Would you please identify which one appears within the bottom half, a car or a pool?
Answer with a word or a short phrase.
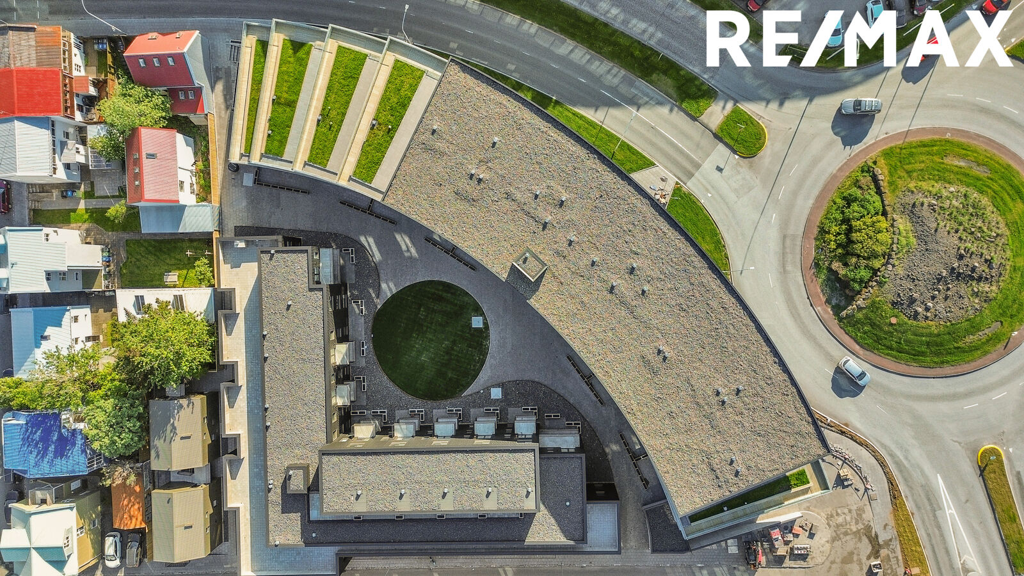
car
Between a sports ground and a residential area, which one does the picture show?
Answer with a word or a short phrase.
residential area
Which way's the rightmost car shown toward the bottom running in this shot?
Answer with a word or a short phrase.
on a diagonal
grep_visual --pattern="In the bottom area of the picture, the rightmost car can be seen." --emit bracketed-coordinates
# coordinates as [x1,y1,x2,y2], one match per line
[837,356,868,387]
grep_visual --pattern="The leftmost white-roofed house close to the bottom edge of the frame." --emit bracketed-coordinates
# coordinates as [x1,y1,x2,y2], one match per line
[0,488,102,576]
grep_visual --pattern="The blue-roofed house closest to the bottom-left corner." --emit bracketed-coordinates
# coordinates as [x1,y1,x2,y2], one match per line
[2,413,114,480]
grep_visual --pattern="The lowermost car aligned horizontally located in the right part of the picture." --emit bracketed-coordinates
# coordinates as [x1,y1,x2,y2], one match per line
[838,97,881,117]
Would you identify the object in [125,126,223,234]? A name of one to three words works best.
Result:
house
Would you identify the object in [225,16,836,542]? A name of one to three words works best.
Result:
building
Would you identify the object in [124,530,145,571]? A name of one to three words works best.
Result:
truck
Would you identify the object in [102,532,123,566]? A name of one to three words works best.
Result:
car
